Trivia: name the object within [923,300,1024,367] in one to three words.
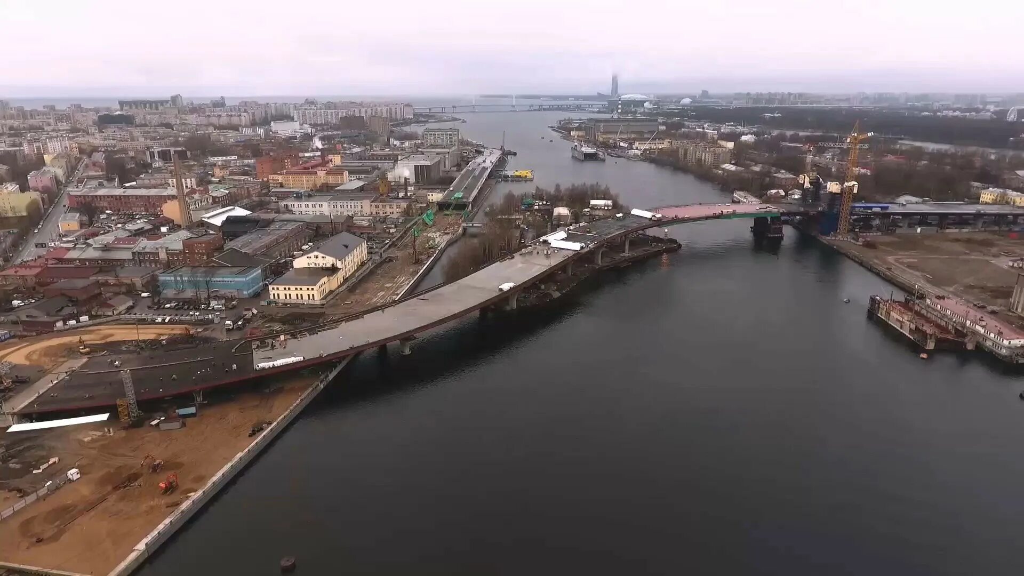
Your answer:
ship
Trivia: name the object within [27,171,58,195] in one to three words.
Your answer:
building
